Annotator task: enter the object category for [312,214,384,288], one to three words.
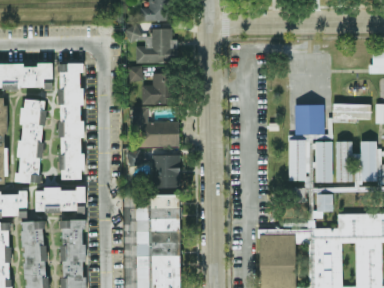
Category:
building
